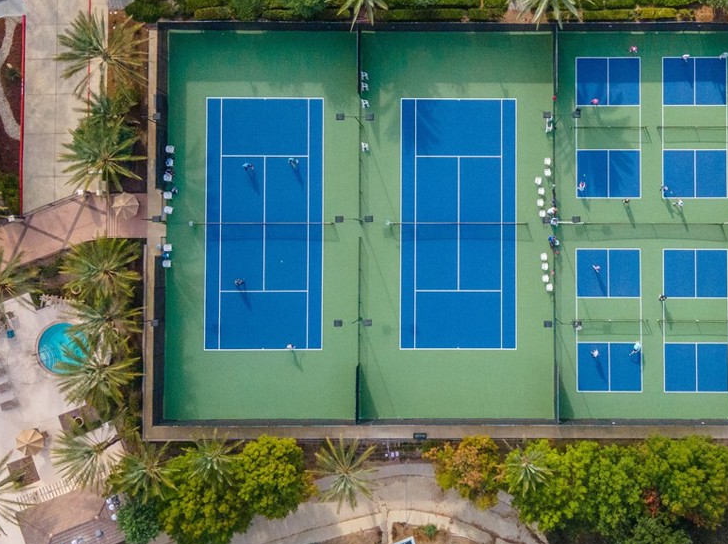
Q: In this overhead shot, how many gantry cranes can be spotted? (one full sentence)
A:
I count no gantry cranes.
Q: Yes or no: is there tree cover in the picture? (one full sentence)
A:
Yes, tree cover shows up in the scene.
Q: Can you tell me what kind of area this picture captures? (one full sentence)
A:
This image shows a sports ground.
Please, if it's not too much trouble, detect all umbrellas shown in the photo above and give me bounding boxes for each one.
[113,192,140,219]
[17,427,47,455]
